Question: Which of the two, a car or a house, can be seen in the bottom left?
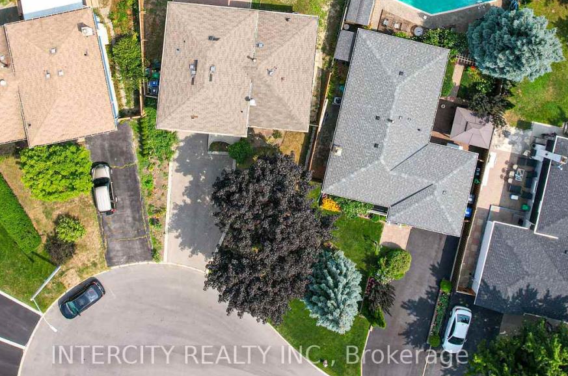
car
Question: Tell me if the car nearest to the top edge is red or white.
white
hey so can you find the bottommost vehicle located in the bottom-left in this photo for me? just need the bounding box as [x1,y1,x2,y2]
[61,280,109,318]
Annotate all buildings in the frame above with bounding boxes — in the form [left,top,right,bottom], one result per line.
[323,27,480,238]
[470,135,568,323]
[0,6,123,148]
[343,0,373,24]
[155,0,319,138]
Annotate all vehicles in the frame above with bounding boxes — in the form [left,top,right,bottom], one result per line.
[61,280,109,318]
[441,306,469,353]
[89,161,120,215]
